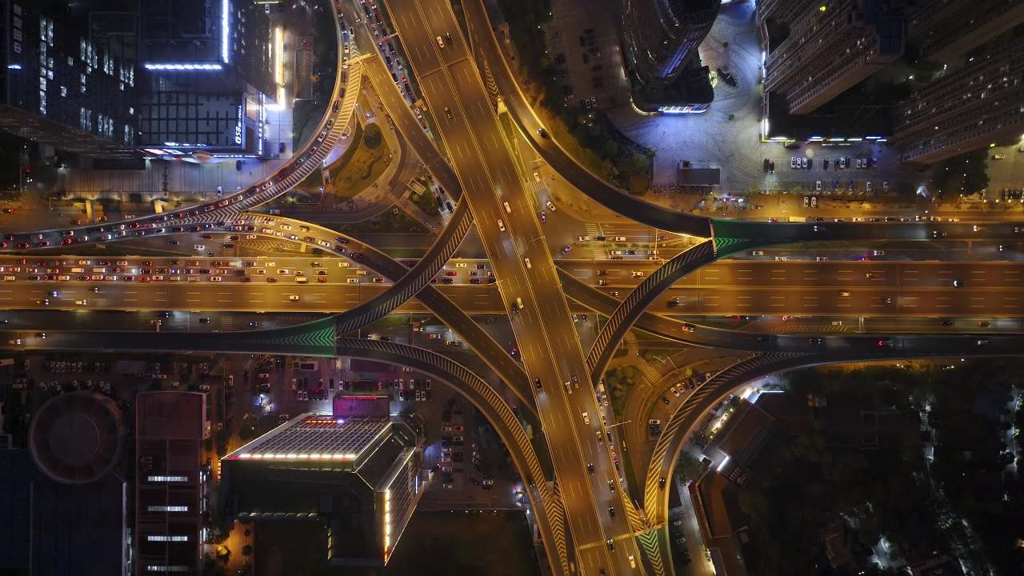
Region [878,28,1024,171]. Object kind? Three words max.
building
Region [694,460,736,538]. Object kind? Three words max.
house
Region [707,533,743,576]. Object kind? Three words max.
house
